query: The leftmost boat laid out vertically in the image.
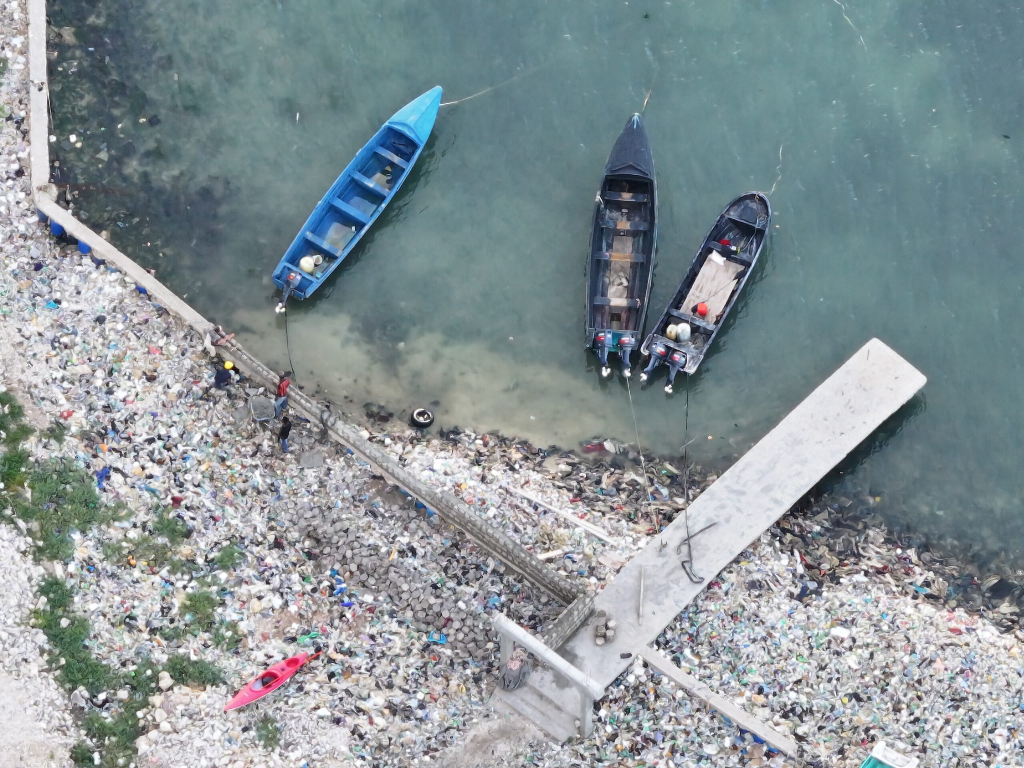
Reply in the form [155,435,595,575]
[586,112,656,384]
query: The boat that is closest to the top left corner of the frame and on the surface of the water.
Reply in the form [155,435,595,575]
[270,84,446,323]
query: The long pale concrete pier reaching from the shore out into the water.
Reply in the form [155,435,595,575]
[522,340,926,721]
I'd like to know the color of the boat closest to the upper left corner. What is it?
blue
